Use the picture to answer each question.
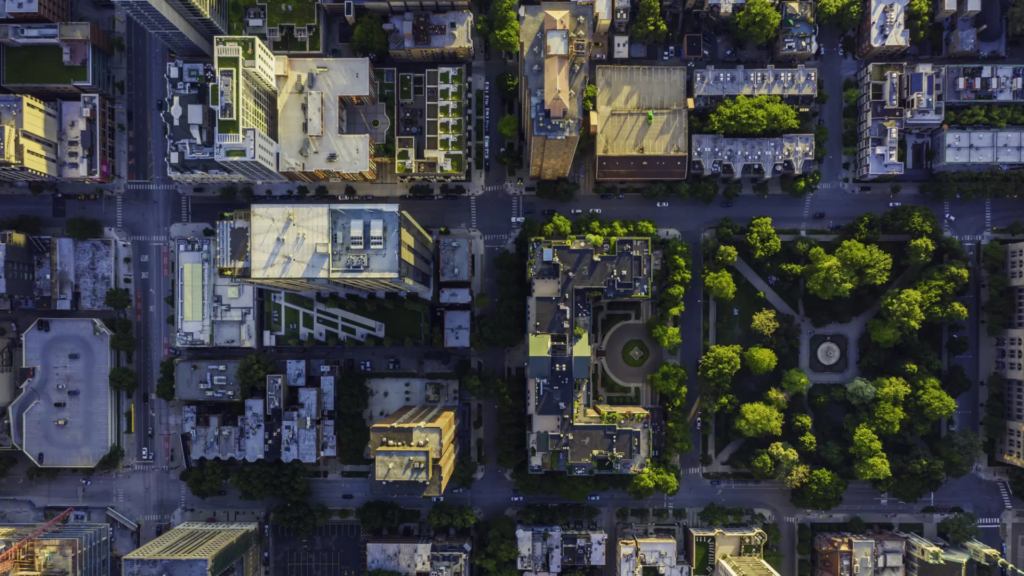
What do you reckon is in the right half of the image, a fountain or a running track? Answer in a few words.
fountain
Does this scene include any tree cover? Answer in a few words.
Yes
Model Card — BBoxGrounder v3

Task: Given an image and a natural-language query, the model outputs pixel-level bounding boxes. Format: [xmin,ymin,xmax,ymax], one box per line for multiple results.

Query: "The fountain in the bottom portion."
[818,341,842,365]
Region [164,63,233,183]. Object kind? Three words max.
building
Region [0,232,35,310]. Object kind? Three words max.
building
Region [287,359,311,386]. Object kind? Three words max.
house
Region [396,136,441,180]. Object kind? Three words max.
house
